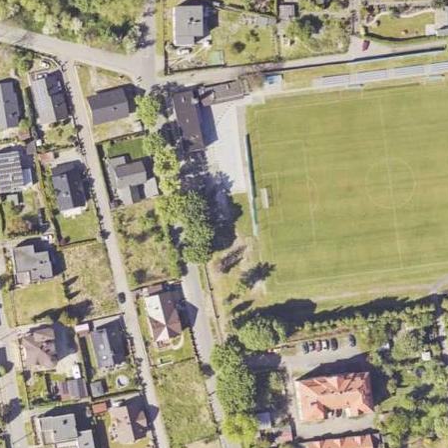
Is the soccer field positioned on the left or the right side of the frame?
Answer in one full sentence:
The soccer field is on the right side of the image.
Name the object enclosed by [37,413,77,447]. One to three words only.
house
